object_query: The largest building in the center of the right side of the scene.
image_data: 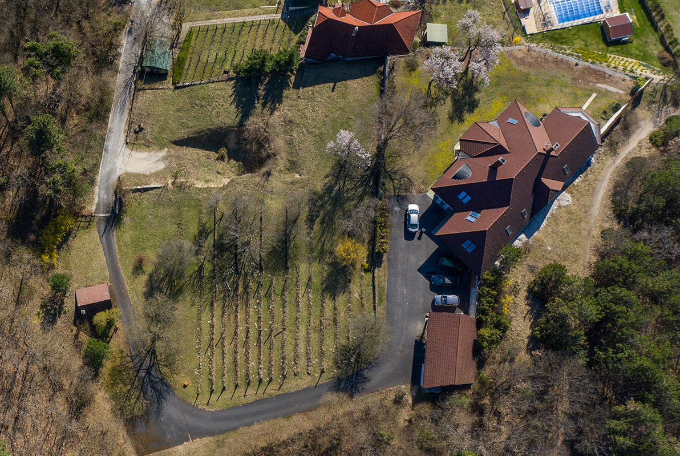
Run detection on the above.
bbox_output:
[430,100,601,277]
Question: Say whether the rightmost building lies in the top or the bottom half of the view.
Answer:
top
